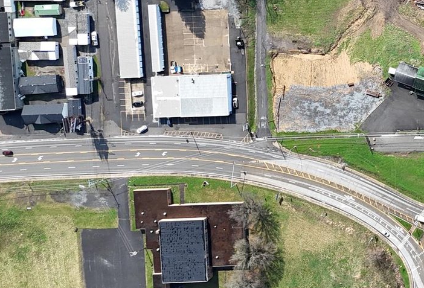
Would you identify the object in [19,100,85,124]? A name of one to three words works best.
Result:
house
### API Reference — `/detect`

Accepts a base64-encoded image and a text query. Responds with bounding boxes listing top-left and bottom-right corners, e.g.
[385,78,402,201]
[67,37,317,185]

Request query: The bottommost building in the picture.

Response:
[134,189,247,288]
